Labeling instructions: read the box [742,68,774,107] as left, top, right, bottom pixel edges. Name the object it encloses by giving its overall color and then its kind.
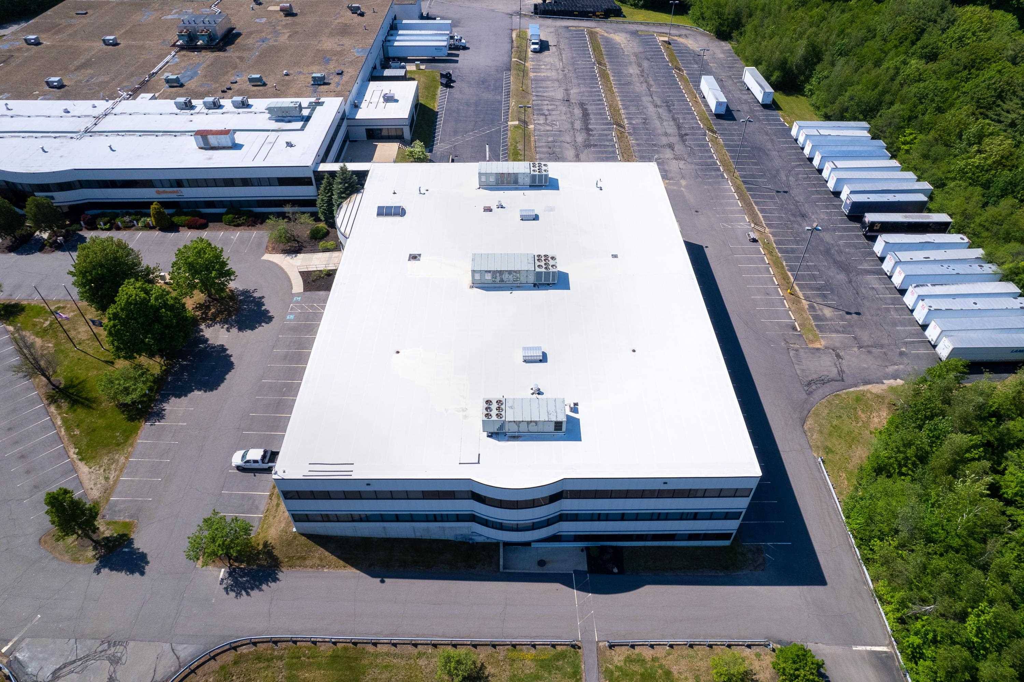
white trailer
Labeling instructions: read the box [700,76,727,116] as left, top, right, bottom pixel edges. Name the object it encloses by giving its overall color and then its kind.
white trailer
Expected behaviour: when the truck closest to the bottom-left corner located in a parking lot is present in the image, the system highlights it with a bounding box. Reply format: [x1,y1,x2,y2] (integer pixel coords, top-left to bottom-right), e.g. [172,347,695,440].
[230,449,280,473]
